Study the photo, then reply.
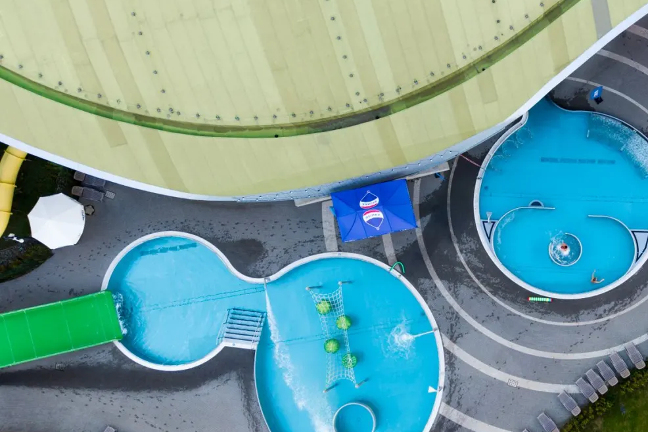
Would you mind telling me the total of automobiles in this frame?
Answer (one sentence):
The count of automobiles is 0.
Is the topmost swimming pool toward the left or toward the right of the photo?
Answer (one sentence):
The topmost swimming pool is on the right side of the image.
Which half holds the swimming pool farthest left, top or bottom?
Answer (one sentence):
Seen from above, the swimming pool farthest left lies in the bottom half of the view.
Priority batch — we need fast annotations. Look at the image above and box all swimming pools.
[103,231,446,432]
[473,92,648,300]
